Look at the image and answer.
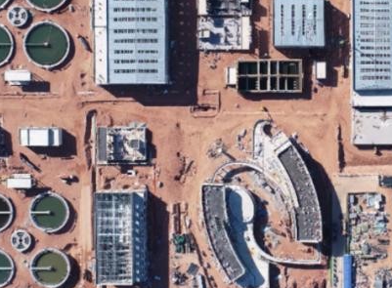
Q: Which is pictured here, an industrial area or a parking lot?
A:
industrial area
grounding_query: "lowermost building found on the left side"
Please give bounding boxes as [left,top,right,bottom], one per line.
[95,190,146,285]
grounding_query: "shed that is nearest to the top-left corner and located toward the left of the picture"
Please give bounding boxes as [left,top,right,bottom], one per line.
[5,70,32,83]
